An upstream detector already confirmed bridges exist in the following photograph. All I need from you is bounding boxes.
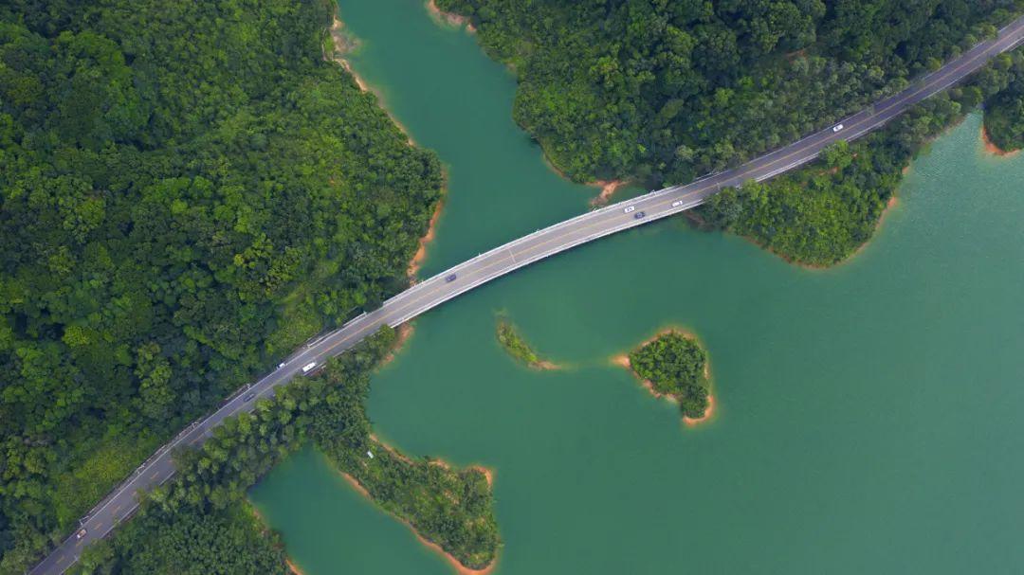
[377,177,706,331]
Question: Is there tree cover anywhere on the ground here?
Yes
